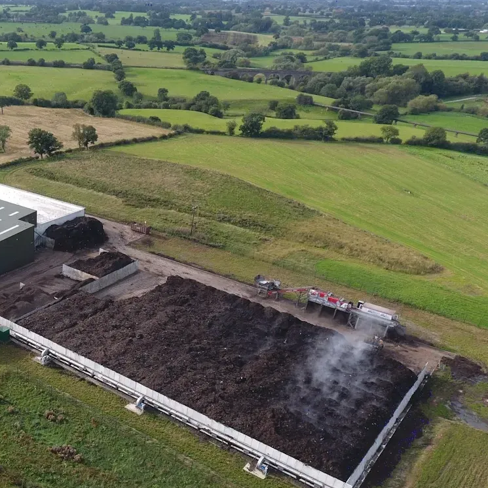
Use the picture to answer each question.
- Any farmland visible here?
Yes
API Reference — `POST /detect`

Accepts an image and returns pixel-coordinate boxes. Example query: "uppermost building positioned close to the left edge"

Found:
[0,183,86,231]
